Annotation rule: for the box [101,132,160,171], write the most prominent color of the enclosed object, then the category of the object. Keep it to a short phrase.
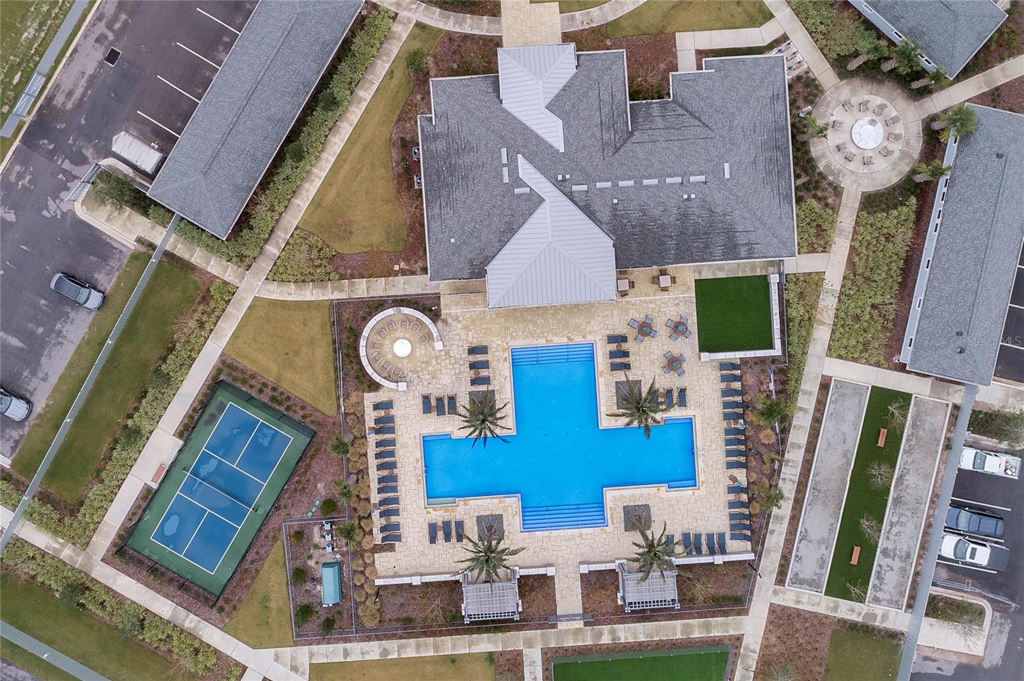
white trailer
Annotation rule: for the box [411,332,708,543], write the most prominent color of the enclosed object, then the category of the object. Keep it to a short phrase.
blue swimming pool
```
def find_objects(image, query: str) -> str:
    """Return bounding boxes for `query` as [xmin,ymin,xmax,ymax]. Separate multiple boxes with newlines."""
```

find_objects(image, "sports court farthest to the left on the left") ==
[125,384,309,598]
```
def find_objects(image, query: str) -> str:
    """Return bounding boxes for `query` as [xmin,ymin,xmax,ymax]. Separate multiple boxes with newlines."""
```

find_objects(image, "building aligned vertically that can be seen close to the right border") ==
[898,105,1024,388]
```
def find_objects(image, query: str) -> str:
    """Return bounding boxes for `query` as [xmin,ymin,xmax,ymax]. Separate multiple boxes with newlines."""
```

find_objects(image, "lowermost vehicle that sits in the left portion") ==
[0,384,31,421]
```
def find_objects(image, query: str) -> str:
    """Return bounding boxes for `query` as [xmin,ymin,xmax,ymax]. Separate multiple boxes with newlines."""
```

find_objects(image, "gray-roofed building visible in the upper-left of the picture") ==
[148,0,368,239]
